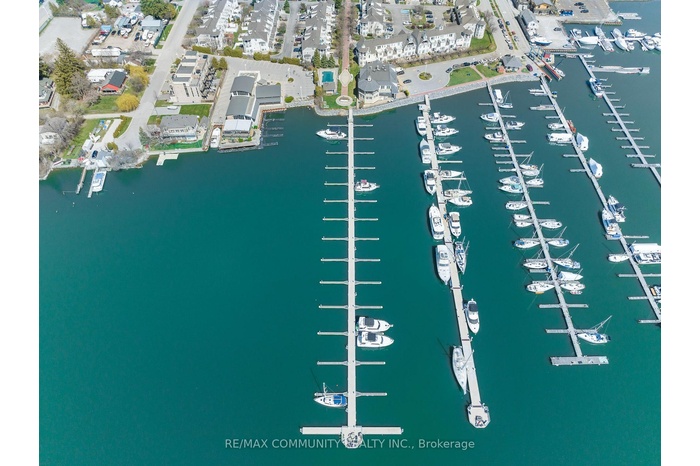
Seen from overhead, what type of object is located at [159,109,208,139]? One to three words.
house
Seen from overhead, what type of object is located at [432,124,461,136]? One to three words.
boat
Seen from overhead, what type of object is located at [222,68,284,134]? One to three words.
building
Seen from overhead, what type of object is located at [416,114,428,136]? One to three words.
boat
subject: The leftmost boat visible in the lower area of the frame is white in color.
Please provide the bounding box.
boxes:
[314,389,346,407]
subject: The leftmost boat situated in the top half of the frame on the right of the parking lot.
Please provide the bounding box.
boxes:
[315,124,349,139]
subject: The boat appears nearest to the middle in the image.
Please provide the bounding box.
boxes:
[354,179,380,192]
